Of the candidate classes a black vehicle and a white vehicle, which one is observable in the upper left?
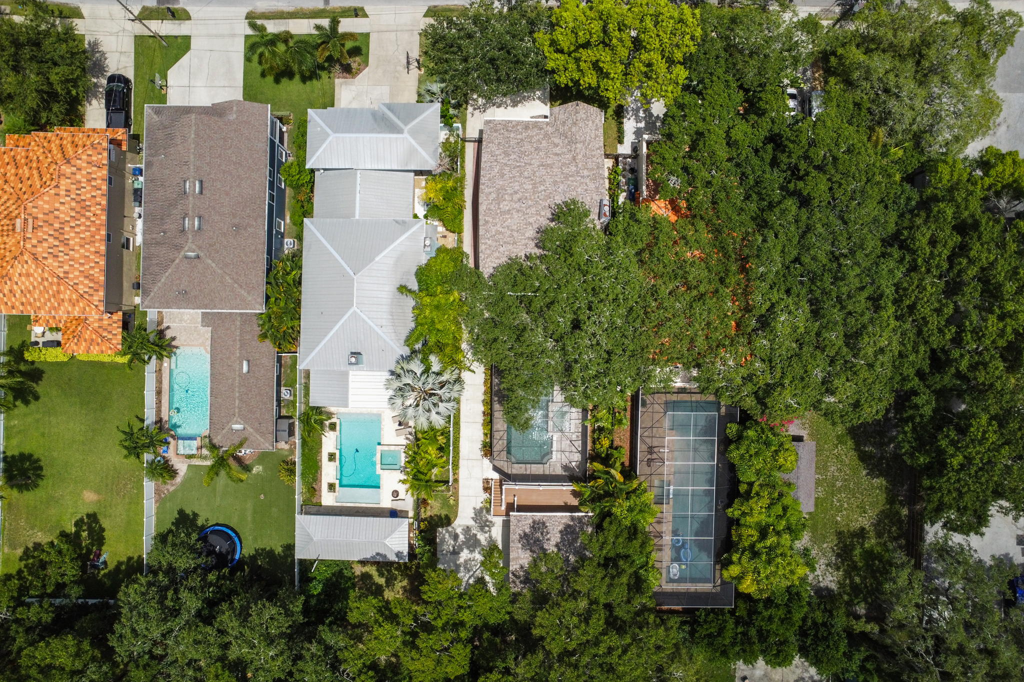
black vehicle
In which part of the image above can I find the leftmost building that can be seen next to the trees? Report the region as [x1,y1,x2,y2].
[0,126,139,354]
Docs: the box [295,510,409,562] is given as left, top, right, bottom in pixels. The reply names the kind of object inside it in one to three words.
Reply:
building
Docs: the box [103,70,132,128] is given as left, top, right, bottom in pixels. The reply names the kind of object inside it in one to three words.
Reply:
truck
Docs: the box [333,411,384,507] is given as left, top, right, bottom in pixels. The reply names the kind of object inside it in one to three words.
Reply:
swimming pool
